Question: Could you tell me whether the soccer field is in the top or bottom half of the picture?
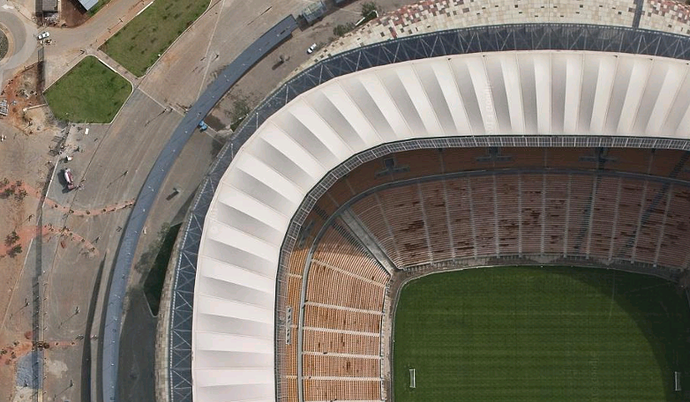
bottom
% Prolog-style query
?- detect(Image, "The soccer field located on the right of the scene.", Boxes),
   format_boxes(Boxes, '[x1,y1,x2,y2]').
[391,264,690,402]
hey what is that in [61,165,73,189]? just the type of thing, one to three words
vehicle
